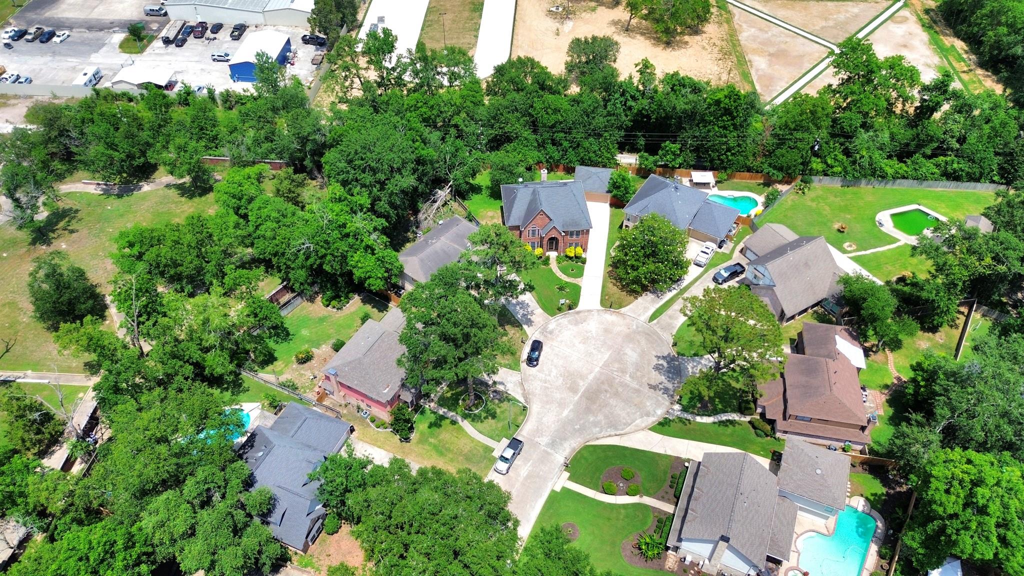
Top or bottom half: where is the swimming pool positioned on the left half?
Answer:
bottom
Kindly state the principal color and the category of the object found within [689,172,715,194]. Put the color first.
white gazebo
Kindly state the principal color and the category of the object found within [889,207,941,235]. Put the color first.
green swimming pool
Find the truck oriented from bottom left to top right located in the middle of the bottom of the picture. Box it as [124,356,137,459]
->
[493,432,528,476]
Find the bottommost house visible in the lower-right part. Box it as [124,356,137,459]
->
[665,439,851,576]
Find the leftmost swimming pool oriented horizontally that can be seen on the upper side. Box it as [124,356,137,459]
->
[705,193,759,215]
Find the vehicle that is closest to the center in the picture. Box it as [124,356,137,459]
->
[526,334,543,365]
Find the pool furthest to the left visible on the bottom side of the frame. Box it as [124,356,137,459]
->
[190,406,251,448]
